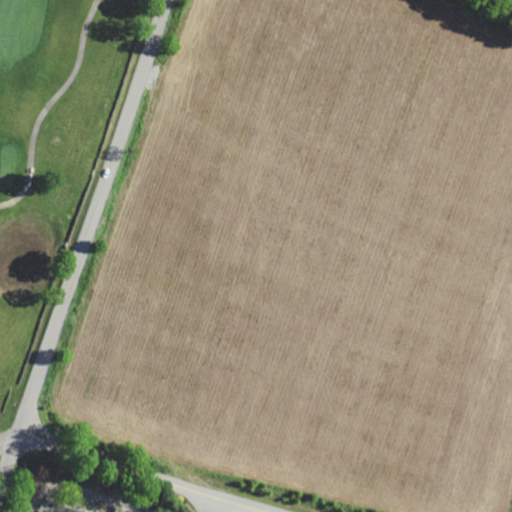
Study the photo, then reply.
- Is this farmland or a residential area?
farmland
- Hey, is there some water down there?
No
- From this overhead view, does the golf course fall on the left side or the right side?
left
